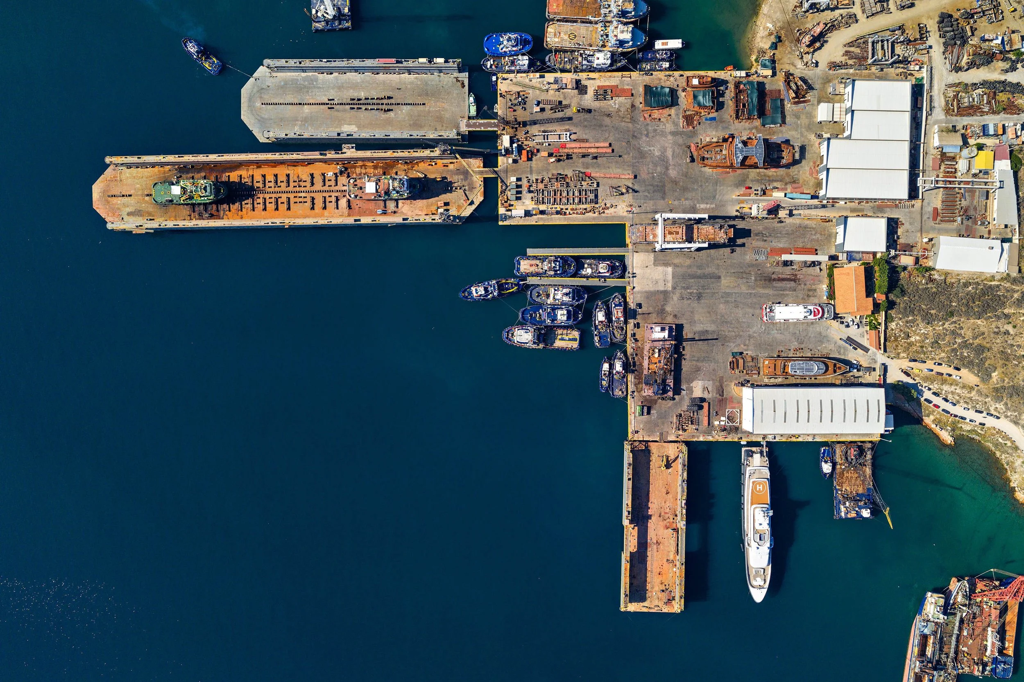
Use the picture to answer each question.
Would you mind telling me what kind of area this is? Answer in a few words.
port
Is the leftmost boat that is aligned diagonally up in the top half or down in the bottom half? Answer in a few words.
top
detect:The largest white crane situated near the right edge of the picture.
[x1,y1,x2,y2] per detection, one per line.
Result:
[916,177,1005,194]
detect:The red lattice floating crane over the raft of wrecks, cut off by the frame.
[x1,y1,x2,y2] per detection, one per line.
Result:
[965,569,1024,624]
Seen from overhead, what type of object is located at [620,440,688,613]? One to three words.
pier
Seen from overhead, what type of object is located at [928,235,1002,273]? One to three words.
building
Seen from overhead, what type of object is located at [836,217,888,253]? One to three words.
building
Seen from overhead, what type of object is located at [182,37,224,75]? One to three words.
boat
